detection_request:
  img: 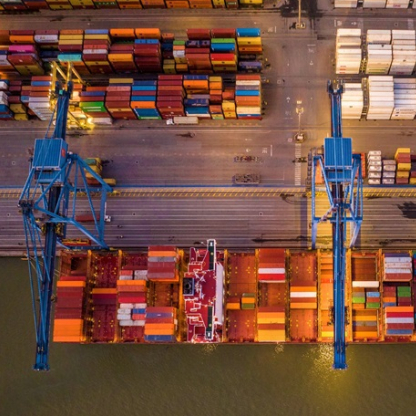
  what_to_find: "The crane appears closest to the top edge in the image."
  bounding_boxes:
[48,57,90,127]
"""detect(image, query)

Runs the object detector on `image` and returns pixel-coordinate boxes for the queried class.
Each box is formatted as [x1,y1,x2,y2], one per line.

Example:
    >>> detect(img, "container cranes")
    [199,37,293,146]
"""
[48,57,90,127]
[300,81,364,370]
[13,79,123,372]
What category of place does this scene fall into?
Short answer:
port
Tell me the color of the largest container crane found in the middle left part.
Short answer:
blue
